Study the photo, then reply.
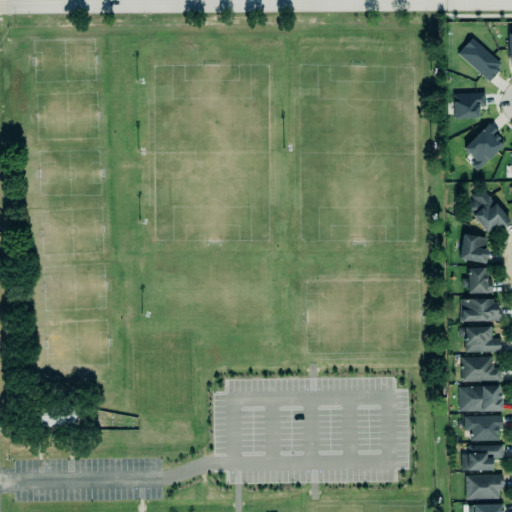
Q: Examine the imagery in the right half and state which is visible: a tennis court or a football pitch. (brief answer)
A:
football pitch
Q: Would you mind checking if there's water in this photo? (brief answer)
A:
No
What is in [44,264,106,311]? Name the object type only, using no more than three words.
soccer field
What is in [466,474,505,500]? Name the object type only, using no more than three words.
house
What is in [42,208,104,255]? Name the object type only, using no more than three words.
soccer field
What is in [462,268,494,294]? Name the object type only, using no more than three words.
house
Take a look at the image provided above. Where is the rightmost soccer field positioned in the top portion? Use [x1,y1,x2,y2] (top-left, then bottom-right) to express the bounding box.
[294,65,416,241]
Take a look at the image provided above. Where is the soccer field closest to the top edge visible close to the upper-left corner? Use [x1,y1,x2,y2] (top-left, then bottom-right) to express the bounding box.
[35,38,97,82]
